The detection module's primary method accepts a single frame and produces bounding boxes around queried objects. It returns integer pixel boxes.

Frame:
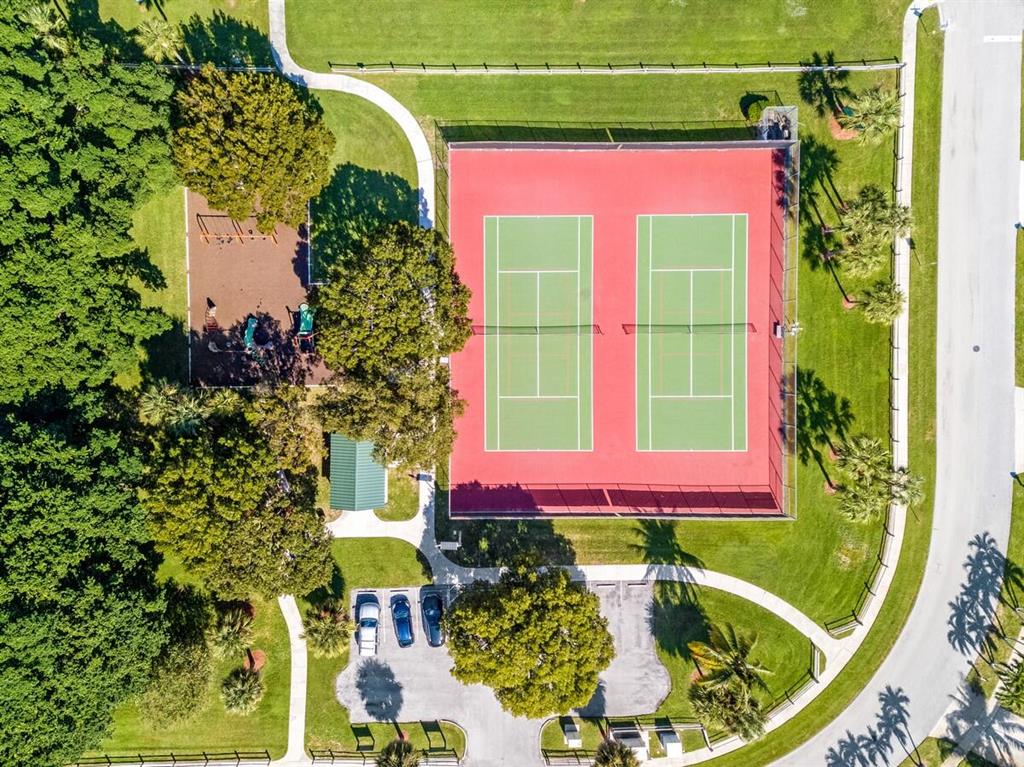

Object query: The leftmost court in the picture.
[485,215,593,451]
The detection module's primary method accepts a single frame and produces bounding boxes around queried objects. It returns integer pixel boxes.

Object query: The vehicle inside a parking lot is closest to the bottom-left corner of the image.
[355,604,379,657]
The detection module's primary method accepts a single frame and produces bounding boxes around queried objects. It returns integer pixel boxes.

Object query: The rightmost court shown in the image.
[636,214,748,452]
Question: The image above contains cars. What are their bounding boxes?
[390,598,413,647]
[355,604,379,657]
[421,597,443,645]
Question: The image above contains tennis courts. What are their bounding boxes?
[636,214,748,452]
[485,215,593,451]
